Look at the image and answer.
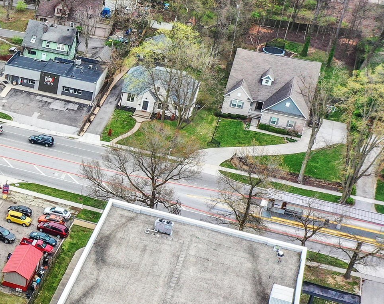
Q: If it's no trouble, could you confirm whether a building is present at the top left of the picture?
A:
Yes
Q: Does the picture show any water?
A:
No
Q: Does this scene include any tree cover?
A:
Yes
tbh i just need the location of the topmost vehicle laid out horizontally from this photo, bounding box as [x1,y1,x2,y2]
[28,133,55,147]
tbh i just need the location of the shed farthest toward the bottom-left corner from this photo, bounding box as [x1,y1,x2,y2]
[1,243,44,290]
